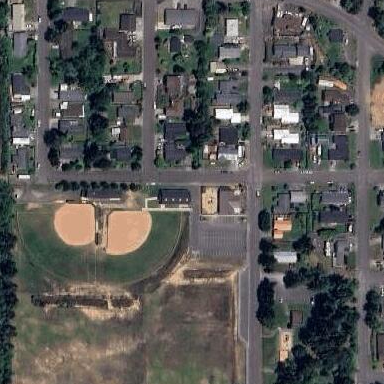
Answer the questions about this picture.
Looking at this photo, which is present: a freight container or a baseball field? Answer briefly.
baseball field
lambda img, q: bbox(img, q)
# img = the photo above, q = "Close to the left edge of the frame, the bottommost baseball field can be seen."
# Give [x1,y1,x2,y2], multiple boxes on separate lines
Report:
[18,201,96,286]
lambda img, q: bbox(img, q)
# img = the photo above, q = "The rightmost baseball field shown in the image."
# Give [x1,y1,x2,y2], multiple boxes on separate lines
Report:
[88,209,187,286]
